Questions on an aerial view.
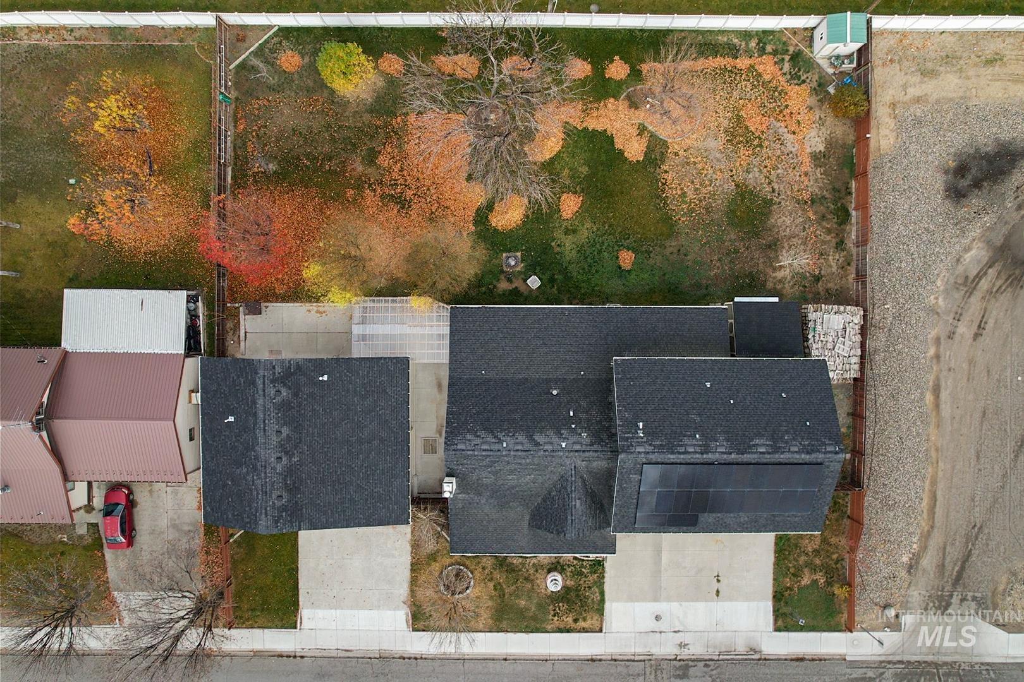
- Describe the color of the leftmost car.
red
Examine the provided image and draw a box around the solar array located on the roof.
[637,466,825,529]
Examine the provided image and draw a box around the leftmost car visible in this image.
[98,486,136,550]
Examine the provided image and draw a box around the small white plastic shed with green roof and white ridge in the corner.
[815,8,868,57]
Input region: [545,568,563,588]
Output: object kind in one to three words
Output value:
fountain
